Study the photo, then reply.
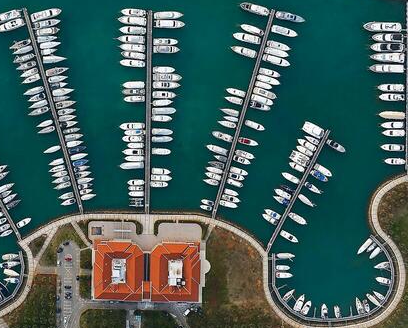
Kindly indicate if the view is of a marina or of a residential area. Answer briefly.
marina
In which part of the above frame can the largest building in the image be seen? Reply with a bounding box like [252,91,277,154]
[93,238,200,301]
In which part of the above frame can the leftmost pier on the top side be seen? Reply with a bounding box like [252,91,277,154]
[22,8,84,214]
